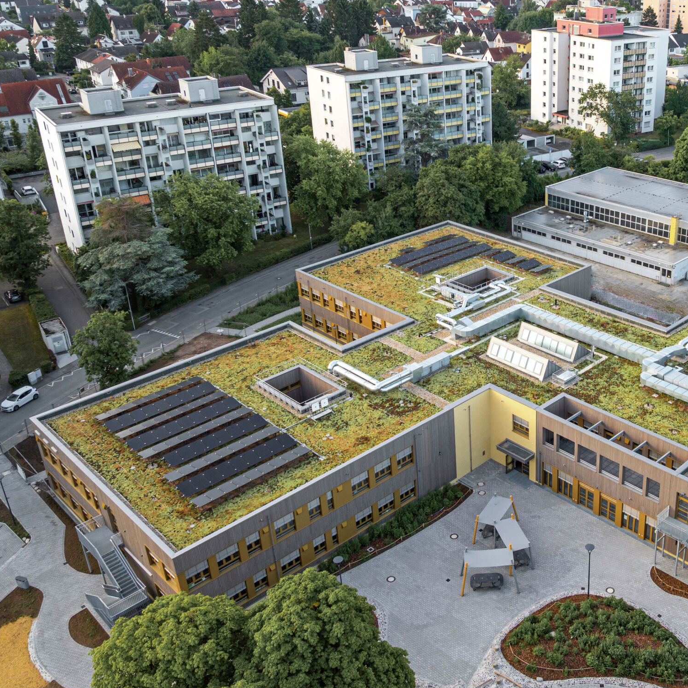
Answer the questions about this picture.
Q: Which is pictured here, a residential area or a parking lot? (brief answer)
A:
residential area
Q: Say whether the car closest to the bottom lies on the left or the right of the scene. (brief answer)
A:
left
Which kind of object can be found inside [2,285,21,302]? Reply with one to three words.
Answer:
car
